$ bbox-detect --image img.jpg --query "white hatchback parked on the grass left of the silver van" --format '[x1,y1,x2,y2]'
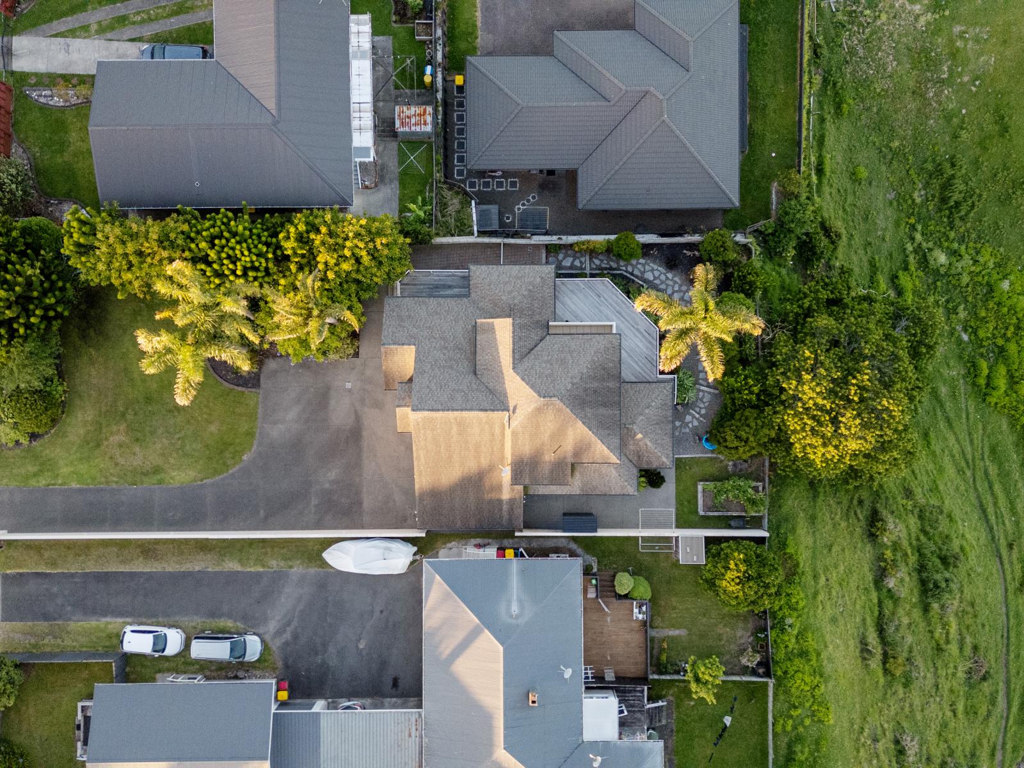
[117,623,187,660]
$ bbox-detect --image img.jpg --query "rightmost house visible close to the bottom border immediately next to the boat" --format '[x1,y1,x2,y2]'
[421,554,666,768]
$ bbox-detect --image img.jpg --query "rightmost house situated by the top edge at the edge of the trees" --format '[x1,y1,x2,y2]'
[464,0,741,211]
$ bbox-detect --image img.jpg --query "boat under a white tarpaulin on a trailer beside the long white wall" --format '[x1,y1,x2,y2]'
[323,537,427,571]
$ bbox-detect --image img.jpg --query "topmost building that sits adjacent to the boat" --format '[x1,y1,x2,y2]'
[381,263,676,532]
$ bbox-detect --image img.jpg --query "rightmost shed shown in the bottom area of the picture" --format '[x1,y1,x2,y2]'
[675,535,705,564]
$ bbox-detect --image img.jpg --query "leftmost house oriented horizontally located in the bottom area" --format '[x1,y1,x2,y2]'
[86,678,277,768]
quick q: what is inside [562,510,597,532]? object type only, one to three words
shed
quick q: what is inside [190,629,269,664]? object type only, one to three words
van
